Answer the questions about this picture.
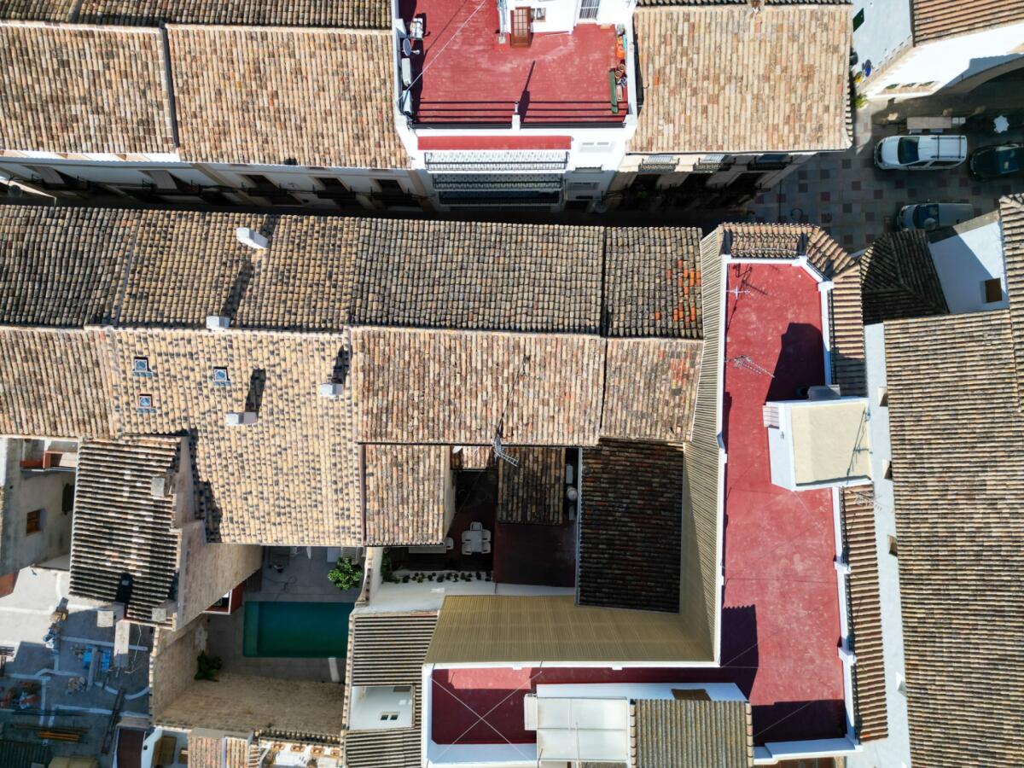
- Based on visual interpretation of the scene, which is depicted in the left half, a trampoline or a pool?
pool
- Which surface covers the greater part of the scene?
buildings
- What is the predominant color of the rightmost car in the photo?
black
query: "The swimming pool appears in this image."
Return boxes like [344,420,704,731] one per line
[238,596,359,663]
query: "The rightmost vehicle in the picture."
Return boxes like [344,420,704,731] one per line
[977,137,1024,182]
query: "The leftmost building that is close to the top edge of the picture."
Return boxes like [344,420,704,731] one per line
[0,0,252,210]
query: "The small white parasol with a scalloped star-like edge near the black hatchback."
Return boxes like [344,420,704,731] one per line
[970,115,1010,143]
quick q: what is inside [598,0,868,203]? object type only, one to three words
house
